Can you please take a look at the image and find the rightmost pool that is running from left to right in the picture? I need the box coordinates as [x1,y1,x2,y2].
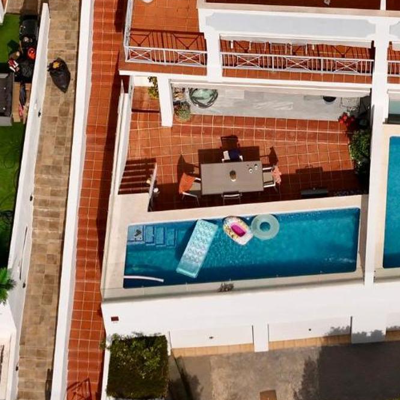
[103,195,368,293]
